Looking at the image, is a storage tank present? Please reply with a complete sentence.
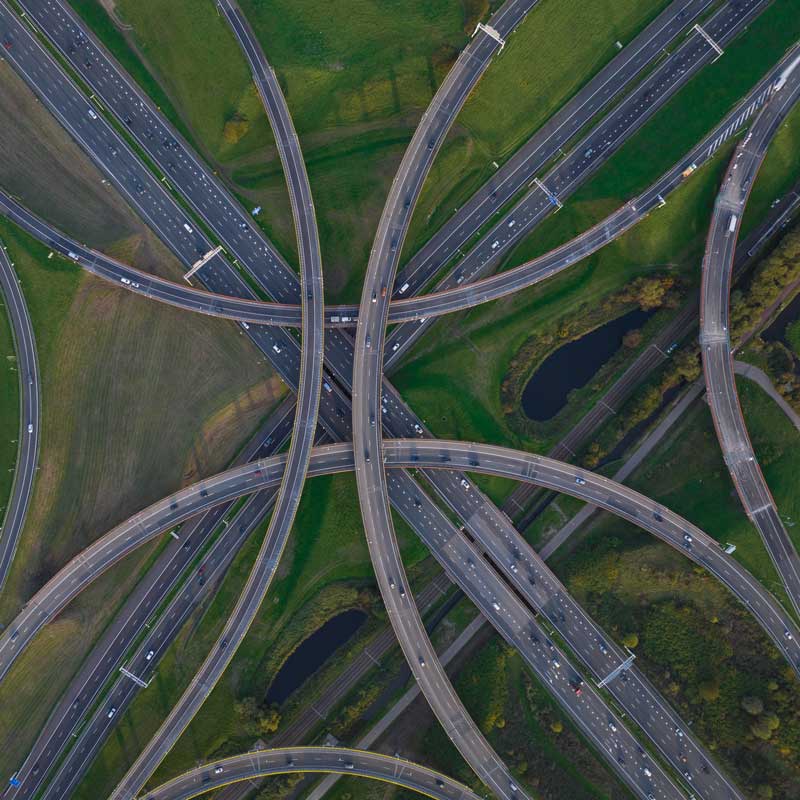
No, I can see no storage tank in this picture.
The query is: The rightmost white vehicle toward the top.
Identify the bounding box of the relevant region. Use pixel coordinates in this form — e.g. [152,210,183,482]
[775,60,800,91]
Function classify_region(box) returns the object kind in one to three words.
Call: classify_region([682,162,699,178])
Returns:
vehicle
